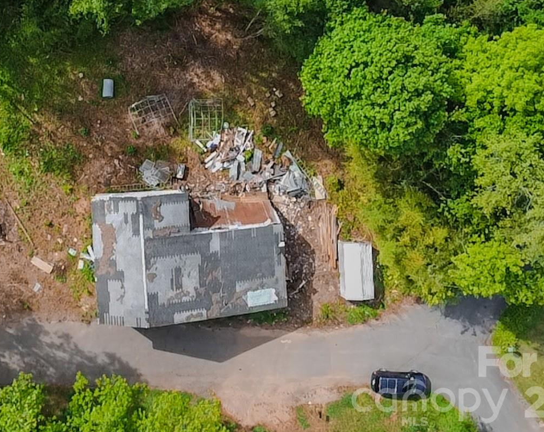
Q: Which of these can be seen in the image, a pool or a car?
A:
car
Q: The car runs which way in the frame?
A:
from left to right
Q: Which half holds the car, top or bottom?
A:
bottom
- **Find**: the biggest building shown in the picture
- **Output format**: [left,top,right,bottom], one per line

[90,190,289,333]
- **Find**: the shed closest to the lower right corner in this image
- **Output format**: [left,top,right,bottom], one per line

[332,239,374,303]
